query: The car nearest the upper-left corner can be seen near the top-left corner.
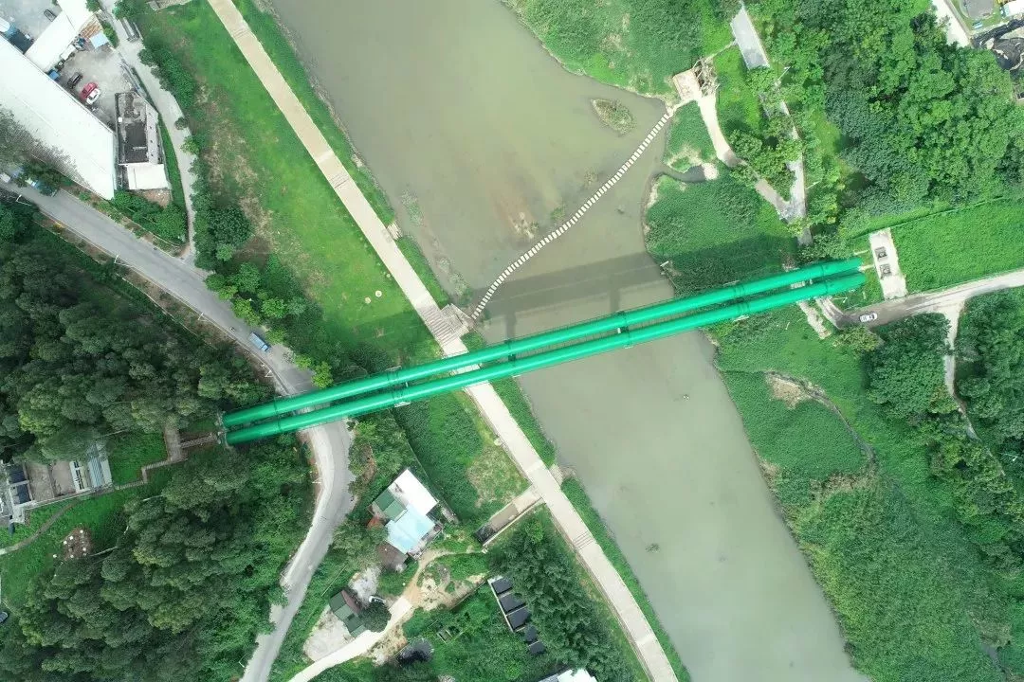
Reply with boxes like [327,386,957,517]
[40,6,56,22]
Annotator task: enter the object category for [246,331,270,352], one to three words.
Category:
truck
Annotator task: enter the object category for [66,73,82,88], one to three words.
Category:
car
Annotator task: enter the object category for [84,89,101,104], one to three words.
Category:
car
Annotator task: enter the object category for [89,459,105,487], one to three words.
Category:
shed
